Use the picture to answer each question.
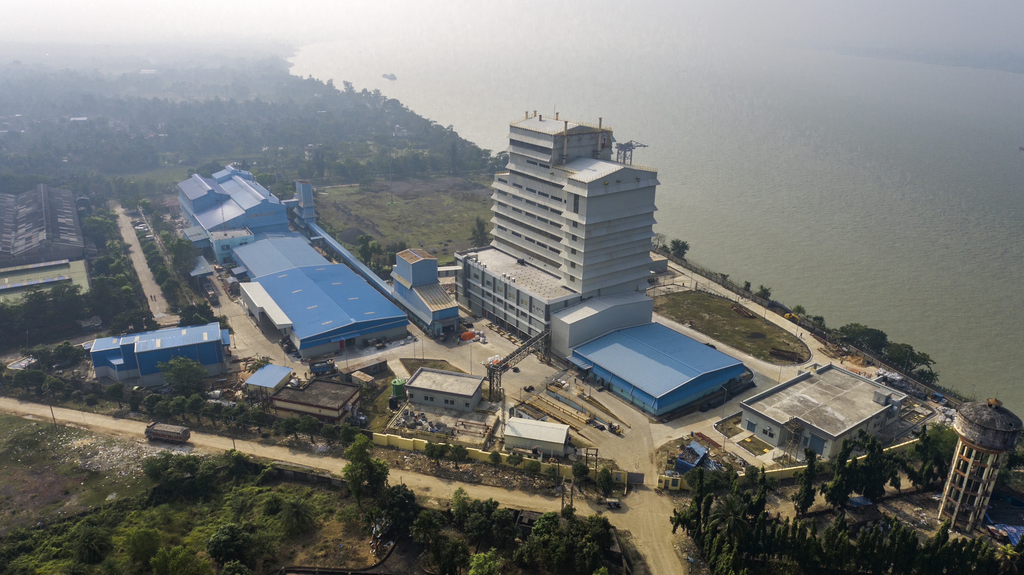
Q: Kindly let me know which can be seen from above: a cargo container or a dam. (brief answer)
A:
cargo container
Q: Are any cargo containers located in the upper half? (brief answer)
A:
No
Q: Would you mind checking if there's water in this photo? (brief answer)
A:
Yes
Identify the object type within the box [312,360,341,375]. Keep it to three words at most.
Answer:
vehicle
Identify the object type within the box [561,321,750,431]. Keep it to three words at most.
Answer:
shed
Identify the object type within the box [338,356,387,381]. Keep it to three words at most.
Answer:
shipping container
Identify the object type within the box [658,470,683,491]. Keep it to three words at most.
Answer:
building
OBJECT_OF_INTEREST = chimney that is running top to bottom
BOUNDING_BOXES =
[495,388,507,445]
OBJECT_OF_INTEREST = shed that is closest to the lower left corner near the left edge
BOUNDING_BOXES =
[9,356,40,377]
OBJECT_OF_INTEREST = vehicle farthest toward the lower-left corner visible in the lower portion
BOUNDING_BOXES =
[145,423,191,444]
